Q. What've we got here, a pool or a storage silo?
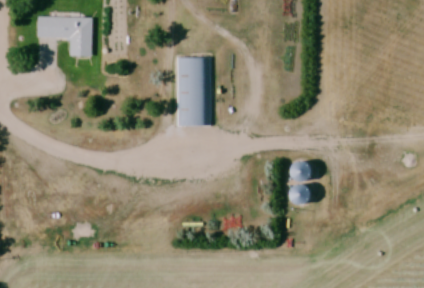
storage silo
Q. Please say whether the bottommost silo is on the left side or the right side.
right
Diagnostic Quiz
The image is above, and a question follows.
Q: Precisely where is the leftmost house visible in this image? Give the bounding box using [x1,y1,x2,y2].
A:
[36,11,95,64]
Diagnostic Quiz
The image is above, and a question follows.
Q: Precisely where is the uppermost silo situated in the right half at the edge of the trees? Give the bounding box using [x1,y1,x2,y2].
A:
[289,159,313,182]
